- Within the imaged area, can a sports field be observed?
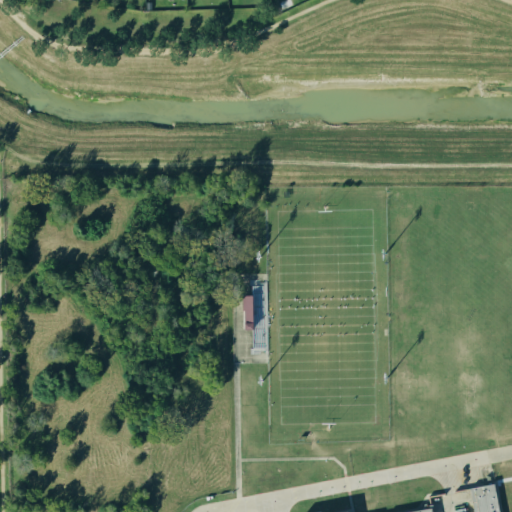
Yes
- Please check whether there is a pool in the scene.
No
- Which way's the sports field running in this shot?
from top to bottom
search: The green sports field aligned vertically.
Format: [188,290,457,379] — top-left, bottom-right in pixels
[276,208,380,426]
